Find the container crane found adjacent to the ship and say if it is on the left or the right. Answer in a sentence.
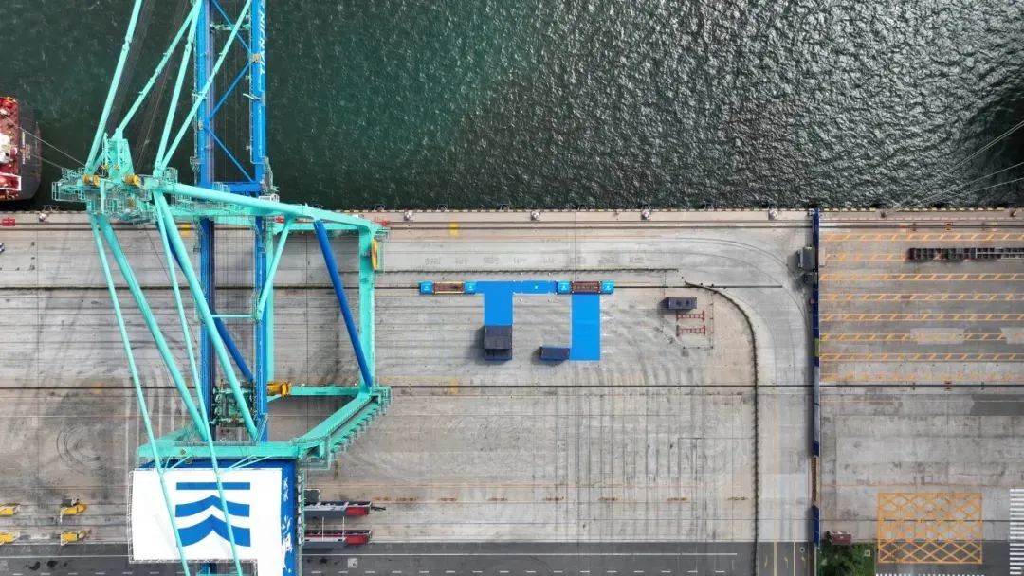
You can find the container crane found adjacent to the ship on the left side of the picture.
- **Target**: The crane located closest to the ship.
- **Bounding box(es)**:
[44,0,394,576]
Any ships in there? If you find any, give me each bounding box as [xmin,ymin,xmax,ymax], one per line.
[0,94,43,201]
